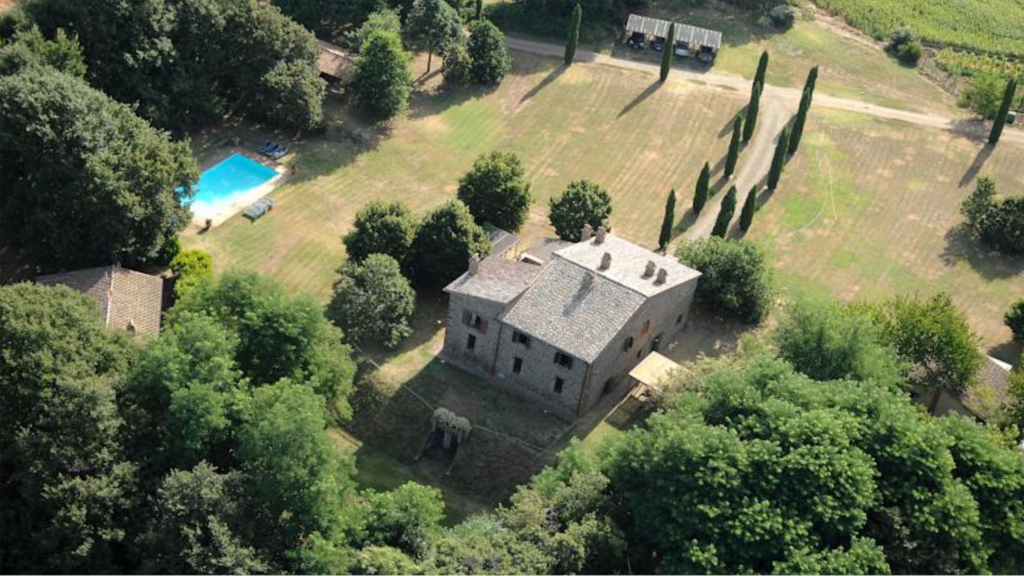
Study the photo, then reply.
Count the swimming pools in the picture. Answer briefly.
1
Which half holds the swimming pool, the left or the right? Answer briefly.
left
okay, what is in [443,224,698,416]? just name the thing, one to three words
house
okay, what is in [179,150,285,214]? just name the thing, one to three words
swimming pool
